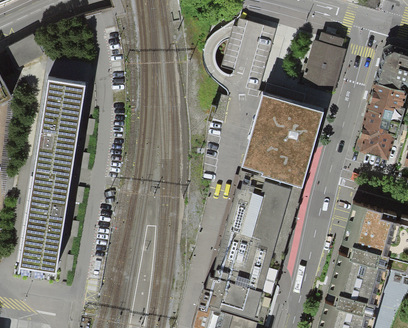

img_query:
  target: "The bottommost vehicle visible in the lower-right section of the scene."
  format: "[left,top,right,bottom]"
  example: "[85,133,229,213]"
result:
[294,264,306,293]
